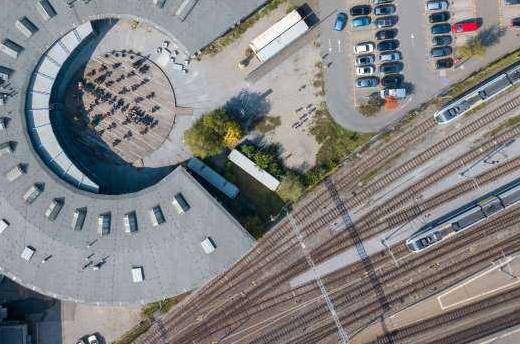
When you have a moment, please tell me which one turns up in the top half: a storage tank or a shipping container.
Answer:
shipping container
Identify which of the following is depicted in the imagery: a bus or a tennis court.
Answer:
bus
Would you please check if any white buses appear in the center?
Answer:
Yes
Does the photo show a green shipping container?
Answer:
No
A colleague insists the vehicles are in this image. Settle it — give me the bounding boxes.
[188,156,239,198]
[355,76,379,86]
[379,51,402,62]
[351,5,371,15]
[381,76,404,86]
[376,29,398,39]
[375,16,398,28]
[374,4,396,14]
[436,59,453,68]
[431,23,451,33]
[380,63,403,73]
[377,40,400,50]
[381,88,406,98]
[84,329,99,344]
[429,11,450,22]
[356,54,376,64]
[509,19,520,27]
[432,35,452,45]
[229,149,278,190]
[356,65,374,75]
[354,43,375,53]
[427,0,449,10]
[431,46,452,57]
[352,16,372,26]
[334,12,347,31]
[452,21,479,33]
